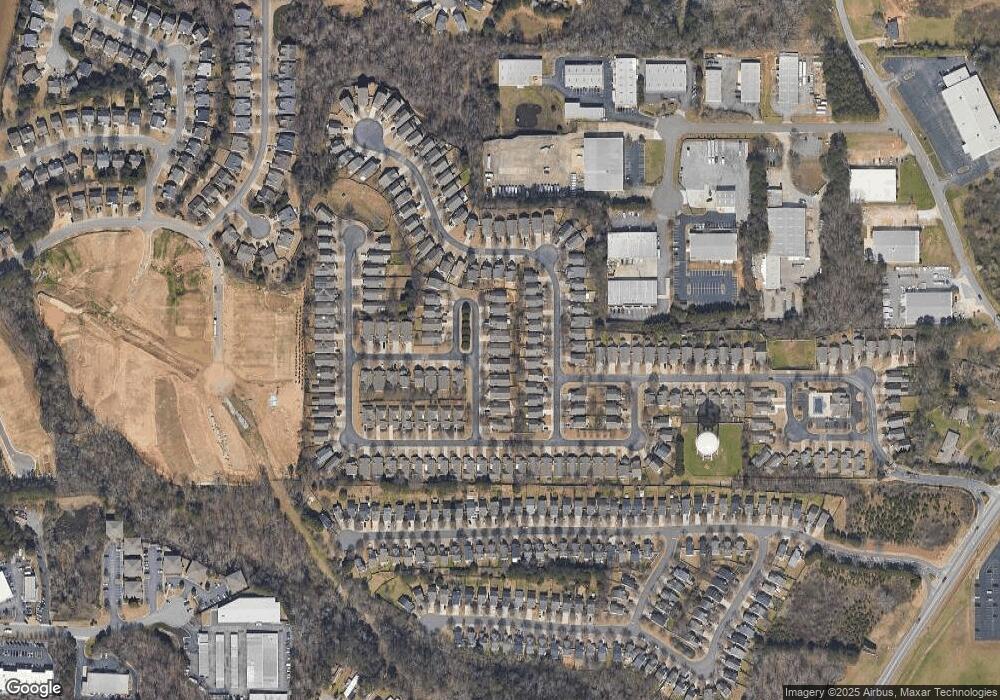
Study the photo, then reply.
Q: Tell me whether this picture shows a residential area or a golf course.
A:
residential area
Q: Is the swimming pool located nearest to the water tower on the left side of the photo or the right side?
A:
right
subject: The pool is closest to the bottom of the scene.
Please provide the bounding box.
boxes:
[809,393,831,417]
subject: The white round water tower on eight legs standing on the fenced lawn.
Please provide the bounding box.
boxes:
[695,432,721,462]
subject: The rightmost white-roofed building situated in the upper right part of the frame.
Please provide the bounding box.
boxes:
[940,67,1000,160]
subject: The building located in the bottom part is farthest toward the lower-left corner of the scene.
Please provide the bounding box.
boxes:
[0,669,54,698]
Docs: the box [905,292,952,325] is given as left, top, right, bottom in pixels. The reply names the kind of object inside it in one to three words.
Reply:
building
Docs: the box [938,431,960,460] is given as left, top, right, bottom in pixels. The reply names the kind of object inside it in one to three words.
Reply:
house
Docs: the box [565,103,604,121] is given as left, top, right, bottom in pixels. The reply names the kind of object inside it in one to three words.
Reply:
shed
